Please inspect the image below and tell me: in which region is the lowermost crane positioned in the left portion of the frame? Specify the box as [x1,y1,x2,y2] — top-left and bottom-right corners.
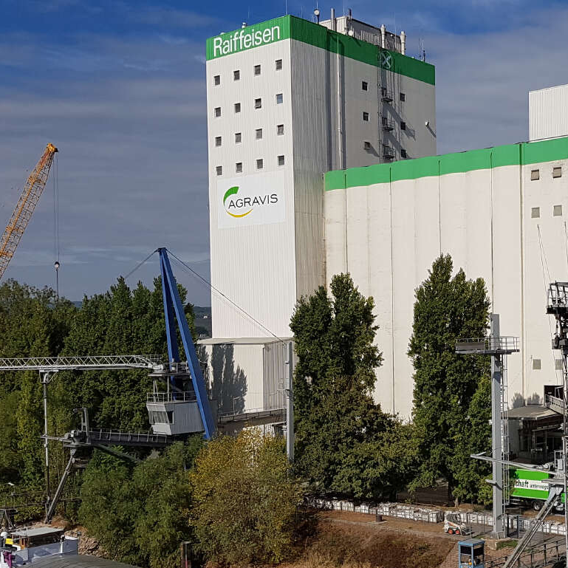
[0,244,289,526]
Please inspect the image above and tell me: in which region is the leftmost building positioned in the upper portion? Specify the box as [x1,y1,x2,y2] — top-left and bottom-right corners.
[206,0,437,433]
